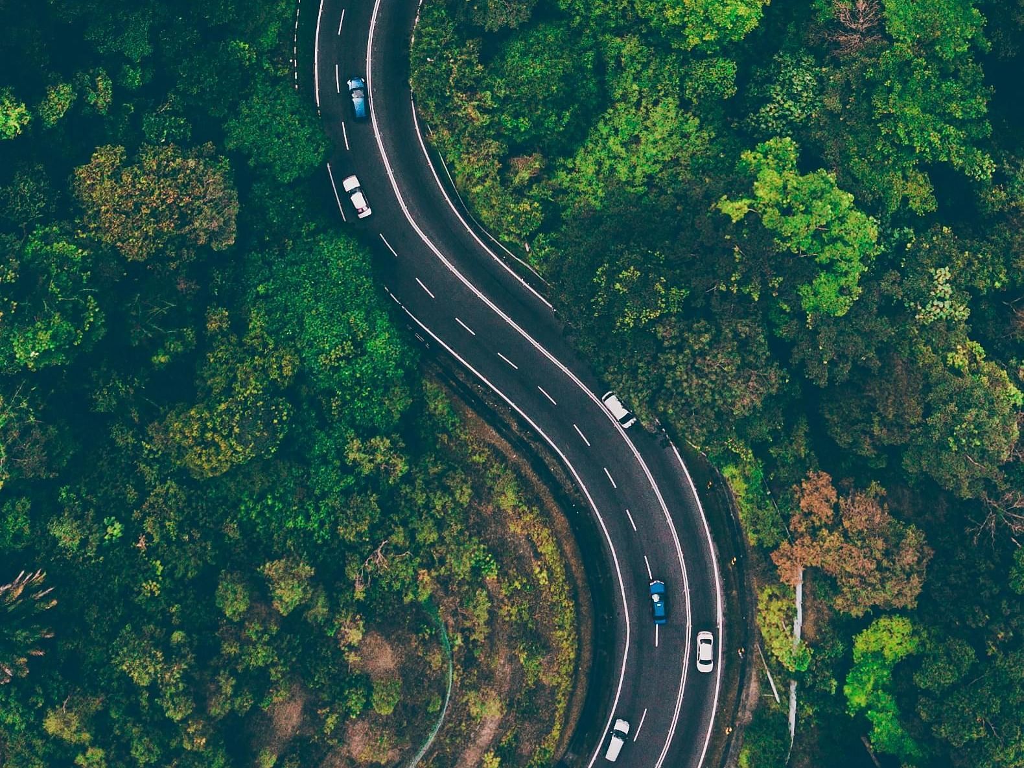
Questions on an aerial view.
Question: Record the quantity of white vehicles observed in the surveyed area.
4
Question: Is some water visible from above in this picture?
No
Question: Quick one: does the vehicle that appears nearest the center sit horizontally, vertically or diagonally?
diagonally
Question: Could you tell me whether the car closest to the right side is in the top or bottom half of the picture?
bottom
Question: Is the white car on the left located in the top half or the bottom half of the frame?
top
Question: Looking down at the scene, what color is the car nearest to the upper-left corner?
blue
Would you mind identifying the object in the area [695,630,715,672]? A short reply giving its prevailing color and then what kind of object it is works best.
white car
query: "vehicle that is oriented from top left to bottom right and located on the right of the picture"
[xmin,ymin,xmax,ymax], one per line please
[600,389,636,430]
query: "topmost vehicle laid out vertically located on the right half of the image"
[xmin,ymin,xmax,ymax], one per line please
[649,580,668,624]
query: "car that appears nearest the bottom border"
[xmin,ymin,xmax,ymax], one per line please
[603,717,630,763]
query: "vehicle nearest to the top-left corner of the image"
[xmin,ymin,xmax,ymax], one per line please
[347,79,370,123]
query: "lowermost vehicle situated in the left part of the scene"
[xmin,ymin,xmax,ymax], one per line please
[343,174,374,220]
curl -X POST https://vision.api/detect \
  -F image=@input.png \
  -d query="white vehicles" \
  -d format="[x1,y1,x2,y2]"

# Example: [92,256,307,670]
[600,389,636,430]
[695,630,715,672]
[343,174,374,220]
[603,717,630,763]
